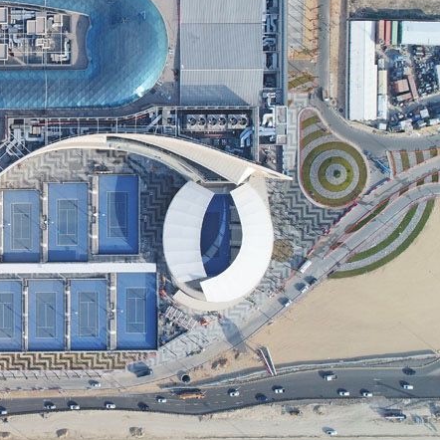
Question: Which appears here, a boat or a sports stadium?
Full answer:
Visible in the photo is a sports stadium.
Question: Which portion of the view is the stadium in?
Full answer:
The stadium sits in the center section of the image.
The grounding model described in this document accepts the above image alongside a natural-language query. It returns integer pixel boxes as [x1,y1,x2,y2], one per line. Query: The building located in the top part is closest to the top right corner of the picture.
[398,21,440,45]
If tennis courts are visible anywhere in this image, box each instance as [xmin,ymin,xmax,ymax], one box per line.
[24,278,67,353]
[0,278,24,352]
[95,173,141,255]
[114,271,160,353]
[44,181,89,262]
[0,189,41,262]
[66,278,110,353]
